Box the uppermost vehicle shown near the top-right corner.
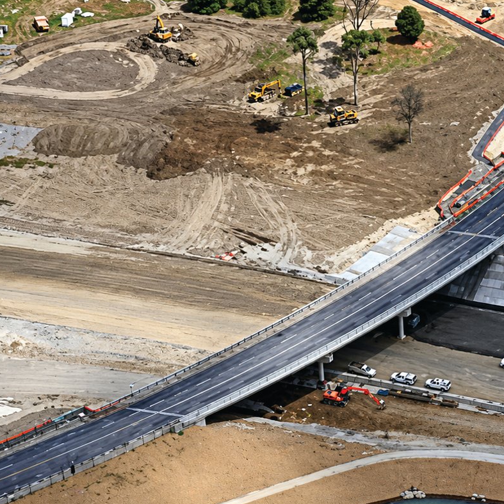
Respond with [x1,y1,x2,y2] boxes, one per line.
[475,7,496,24]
